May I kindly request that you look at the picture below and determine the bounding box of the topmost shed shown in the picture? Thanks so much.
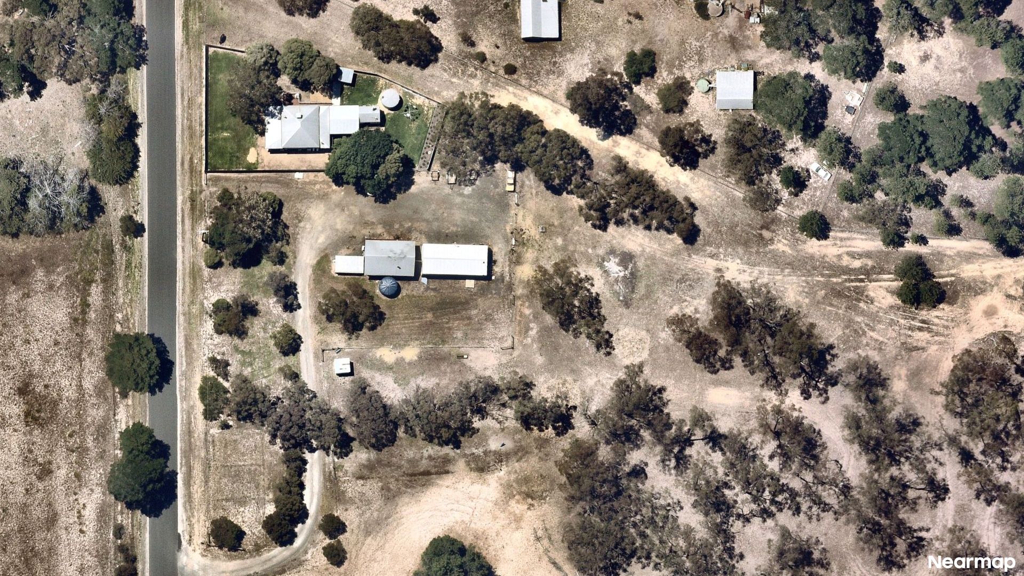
[521,0,558,39]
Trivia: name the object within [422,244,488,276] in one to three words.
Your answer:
shed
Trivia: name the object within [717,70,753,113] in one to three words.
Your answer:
shed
